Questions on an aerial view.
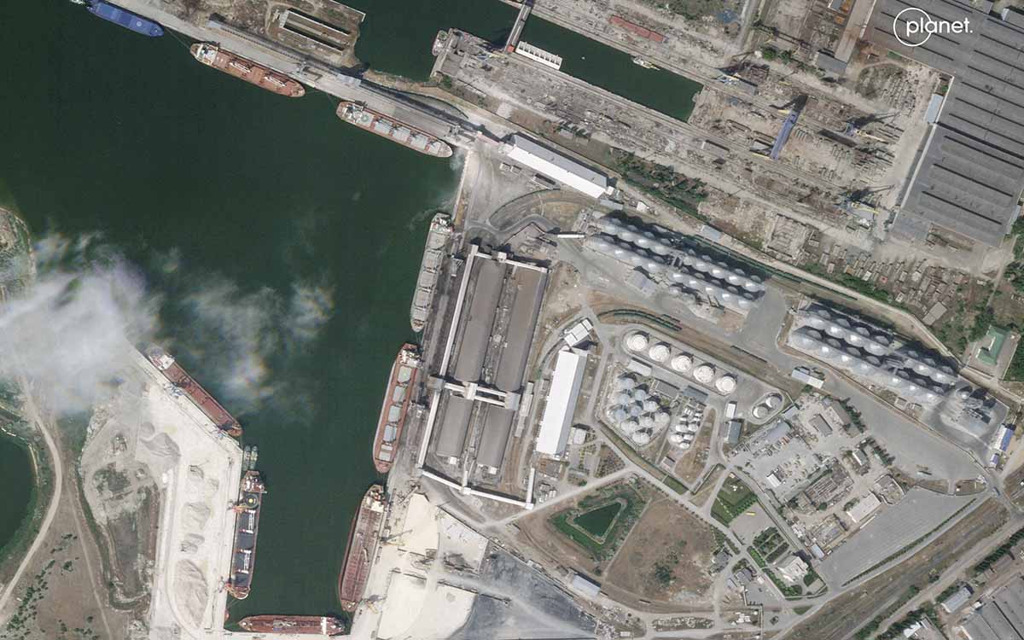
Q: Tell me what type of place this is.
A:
port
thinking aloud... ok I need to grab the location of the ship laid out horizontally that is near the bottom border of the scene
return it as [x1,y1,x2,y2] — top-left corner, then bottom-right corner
[238,614,346,635]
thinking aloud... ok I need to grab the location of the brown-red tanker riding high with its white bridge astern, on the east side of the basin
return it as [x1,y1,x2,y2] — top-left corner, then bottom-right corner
[341,482,384,612]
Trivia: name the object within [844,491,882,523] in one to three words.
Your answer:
building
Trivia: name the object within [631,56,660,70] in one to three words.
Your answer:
boat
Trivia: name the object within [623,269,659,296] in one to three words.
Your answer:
shed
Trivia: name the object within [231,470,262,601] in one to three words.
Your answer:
ship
